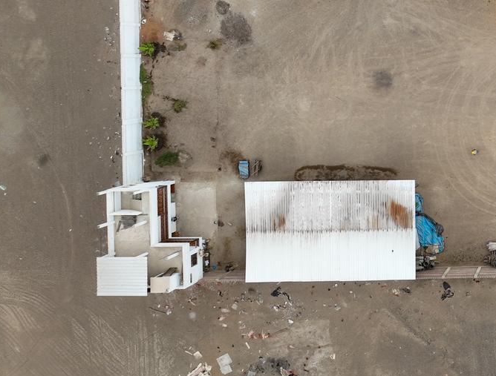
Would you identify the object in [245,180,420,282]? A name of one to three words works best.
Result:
shed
